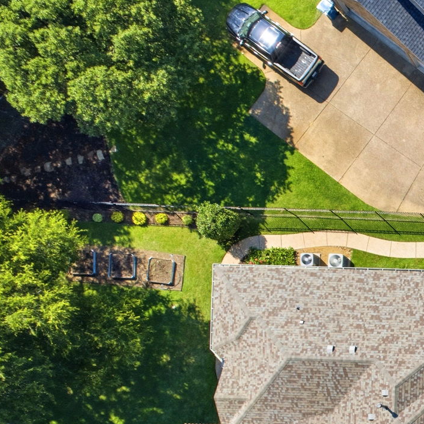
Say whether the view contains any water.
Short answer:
No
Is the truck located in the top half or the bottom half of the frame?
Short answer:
top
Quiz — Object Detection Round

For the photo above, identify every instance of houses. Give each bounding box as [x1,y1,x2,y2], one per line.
[208,262,424,424]
[338,0,424,73]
